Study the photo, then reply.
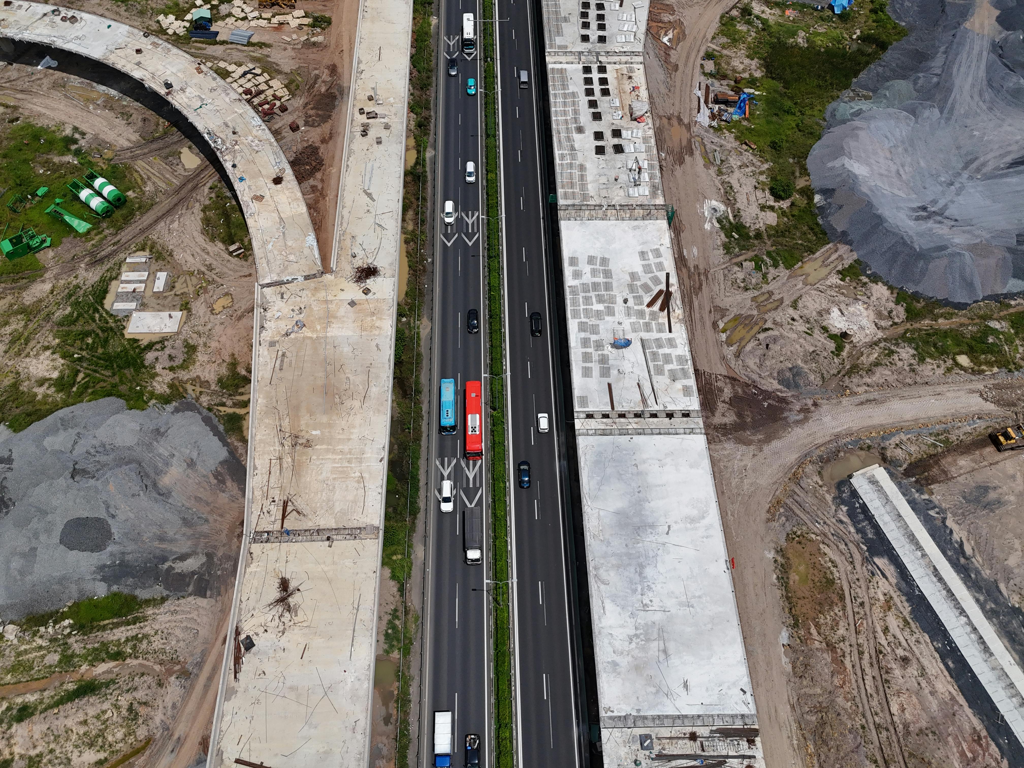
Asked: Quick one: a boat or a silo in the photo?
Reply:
silo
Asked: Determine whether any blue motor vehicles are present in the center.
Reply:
Yes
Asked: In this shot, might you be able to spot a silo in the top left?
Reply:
Yes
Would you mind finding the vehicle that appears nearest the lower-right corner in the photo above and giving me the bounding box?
[993,416,1024,450]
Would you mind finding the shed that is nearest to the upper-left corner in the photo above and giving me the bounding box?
[191,1,212,23]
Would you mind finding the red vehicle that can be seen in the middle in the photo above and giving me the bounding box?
[464,384,484,455]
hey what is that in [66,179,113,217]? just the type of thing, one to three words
silo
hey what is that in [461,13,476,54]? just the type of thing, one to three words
vehicle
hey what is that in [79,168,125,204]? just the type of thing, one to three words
silo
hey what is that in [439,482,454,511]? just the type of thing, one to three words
car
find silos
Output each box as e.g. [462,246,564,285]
[66,179,113,217]
[79,168,125,204]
